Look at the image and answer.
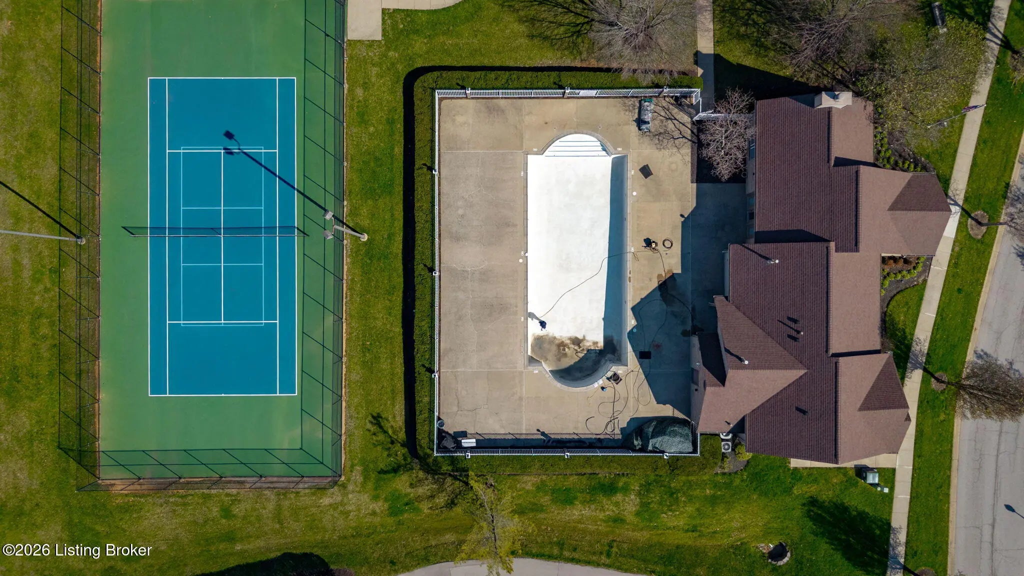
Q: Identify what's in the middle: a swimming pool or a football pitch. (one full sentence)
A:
What appears in the middle is a swimming pool.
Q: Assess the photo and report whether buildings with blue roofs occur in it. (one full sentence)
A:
No, there isn't any building with a blue roof down there.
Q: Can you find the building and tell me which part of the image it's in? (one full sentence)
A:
Look in the right portion of the view to spot the building.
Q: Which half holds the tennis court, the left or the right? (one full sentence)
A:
The tennis court is on the left side of the image.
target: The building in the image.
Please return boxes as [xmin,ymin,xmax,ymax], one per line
[687,90,952,464]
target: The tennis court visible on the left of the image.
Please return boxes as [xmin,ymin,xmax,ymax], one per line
[100,0,344,478]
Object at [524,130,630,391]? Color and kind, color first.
white swimming pool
